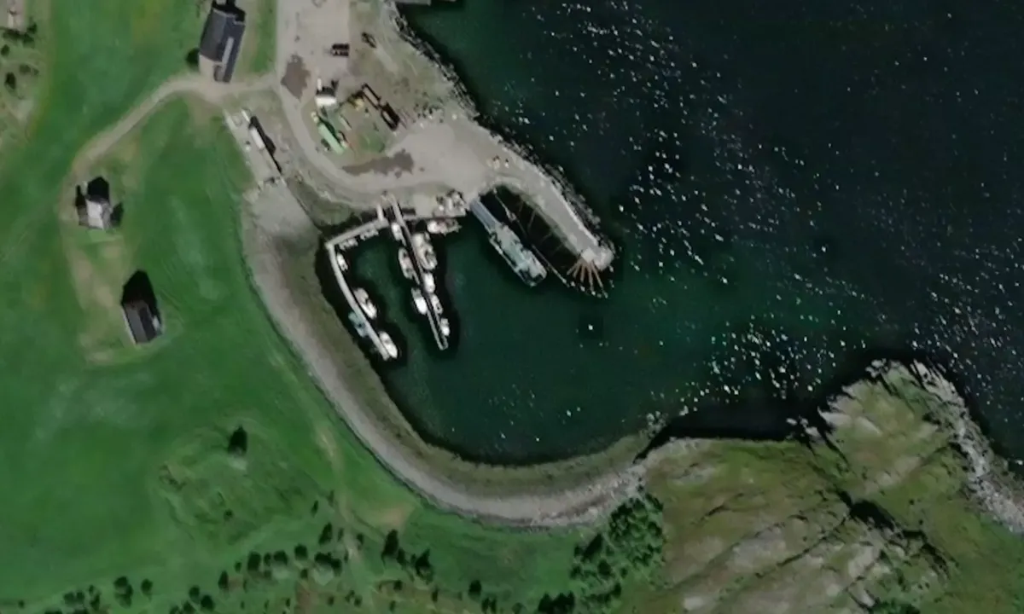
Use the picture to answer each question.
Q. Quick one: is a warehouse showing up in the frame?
No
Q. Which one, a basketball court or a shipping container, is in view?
shipping container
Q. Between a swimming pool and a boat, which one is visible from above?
boat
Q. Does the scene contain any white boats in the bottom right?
No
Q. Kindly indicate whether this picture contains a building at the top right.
No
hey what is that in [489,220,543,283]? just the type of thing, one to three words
ship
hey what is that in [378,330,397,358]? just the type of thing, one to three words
boat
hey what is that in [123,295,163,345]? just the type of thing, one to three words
house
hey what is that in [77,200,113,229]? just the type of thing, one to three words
house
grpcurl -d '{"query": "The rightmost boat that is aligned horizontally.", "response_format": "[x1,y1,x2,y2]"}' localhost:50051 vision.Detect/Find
[427,220,459,233]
